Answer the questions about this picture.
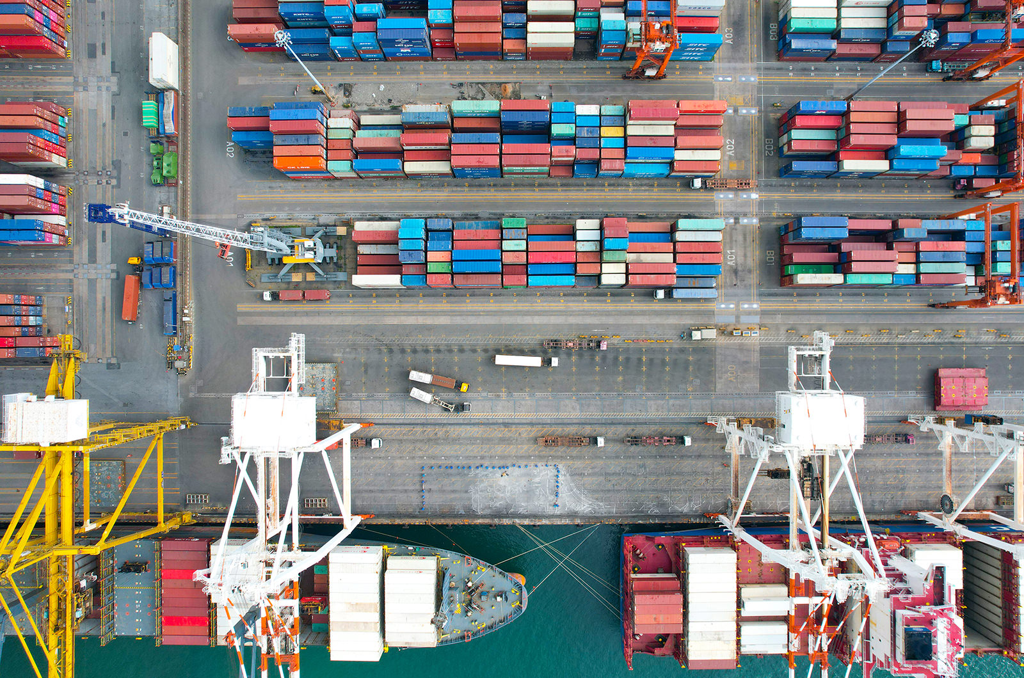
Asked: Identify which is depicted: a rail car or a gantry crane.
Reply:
gantry crane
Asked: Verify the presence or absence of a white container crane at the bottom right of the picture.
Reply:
Yes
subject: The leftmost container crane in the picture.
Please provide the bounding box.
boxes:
[0,335,203,678]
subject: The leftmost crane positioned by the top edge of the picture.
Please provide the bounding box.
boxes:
[625,0,682,81]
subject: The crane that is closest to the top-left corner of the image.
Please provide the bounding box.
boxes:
[112,202,338,278]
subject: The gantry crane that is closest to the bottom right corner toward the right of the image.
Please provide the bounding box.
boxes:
[900,418,1024,562]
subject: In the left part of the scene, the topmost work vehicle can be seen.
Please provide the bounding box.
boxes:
[308,82,325,94]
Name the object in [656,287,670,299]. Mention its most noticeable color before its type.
white vehicle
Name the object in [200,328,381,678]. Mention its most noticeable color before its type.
white container crane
